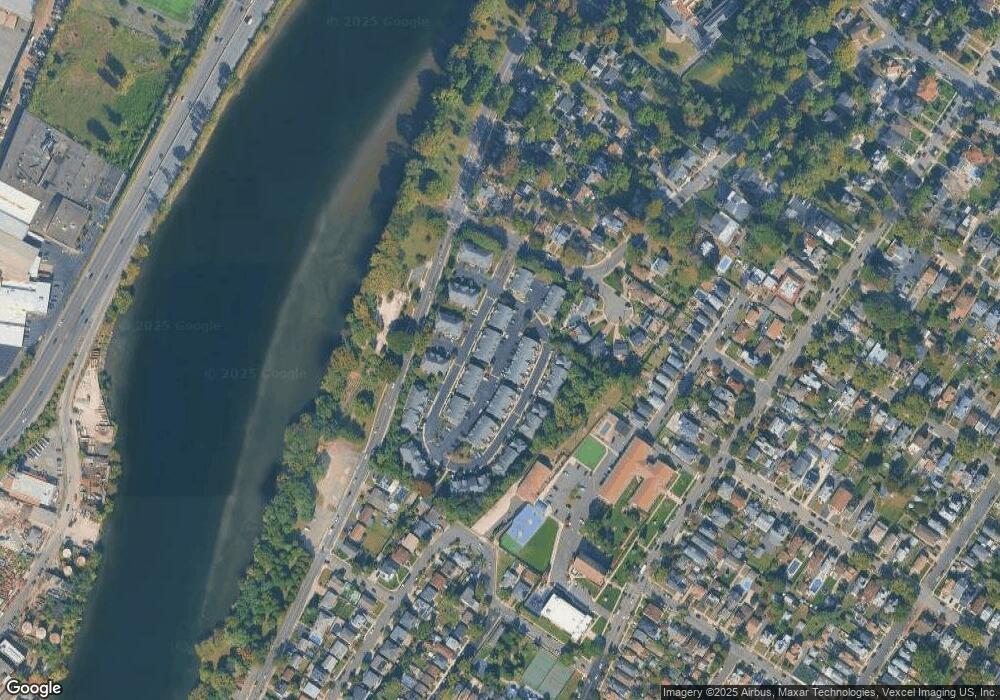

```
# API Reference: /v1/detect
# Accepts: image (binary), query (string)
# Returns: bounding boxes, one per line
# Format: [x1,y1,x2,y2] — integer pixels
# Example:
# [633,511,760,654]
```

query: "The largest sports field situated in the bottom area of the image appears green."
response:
[519,515,560,572]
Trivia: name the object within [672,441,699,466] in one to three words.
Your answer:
house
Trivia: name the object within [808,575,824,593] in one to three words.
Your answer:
swimming pool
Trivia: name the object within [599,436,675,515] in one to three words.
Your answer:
building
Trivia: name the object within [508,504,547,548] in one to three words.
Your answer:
basketball court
